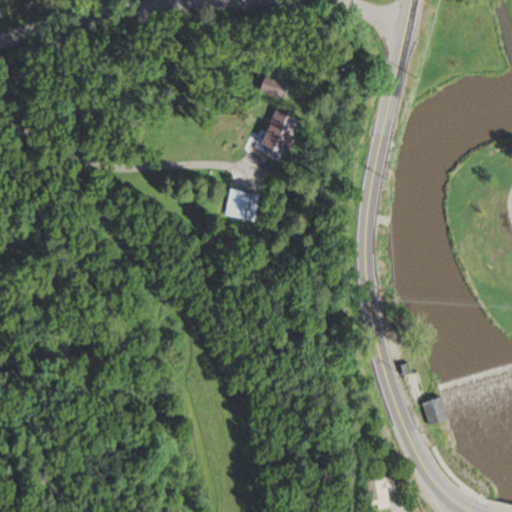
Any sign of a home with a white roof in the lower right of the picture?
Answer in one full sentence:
Yes, in the lower right of the picture there is a home with a white roof.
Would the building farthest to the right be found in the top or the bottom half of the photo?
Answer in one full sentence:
The bottom half of the photo is where the building farthest to the right is.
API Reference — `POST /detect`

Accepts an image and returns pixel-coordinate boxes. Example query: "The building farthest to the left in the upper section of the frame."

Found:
[224,188,260,222]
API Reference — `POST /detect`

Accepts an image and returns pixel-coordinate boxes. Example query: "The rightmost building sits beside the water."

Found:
[423,398,448,424]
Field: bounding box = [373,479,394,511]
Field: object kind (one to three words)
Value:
house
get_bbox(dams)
[434,362,512,394]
